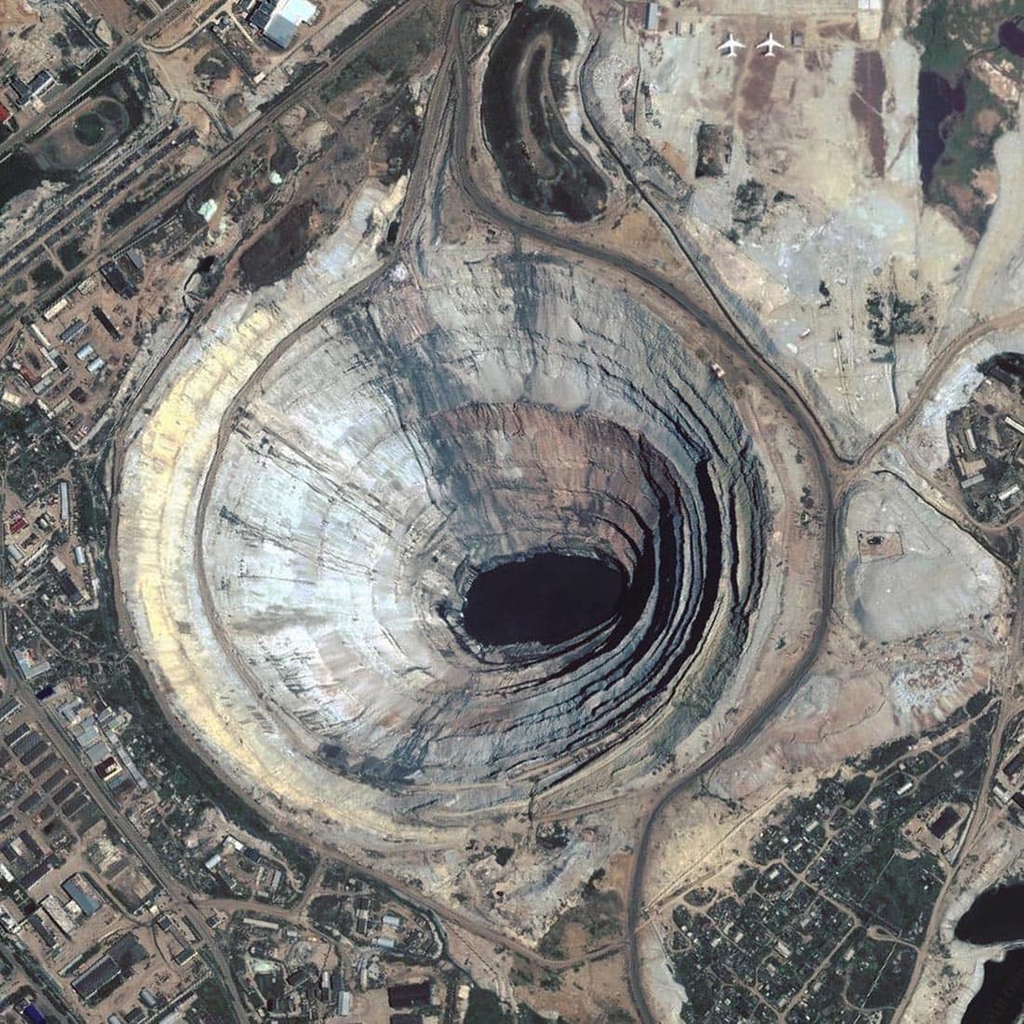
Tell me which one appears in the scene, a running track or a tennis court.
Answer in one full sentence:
The one in the frame is a running track.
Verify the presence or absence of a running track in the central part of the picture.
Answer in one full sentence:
No, the scene shows no running track in the central part of the picture.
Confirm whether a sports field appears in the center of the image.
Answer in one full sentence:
No, no sports field is visible in the center of the image.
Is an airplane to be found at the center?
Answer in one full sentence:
No, I see no airplane at the center.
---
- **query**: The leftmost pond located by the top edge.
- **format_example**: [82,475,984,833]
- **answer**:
[481,4,609,222]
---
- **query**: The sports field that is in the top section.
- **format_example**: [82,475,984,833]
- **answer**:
[34,94,128,168]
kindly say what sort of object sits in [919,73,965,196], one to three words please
pond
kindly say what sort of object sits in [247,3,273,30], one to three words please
building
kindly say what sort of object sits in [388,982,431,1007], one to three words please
building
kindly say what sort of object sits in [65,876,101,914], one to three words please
hangar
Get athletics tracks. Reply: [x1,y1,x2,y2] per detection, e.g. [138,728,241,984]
[34,94,128,168]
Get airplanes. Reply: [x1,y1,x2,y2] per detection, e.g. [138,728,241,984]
[758,33,783,56]
[719,33,745,57]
